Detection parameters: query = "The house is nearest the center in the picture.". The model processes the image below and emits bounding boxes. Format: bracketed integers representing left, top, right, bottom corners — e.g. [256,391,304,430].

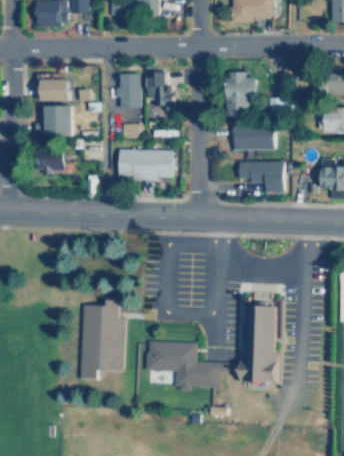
[118,148,176,180]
